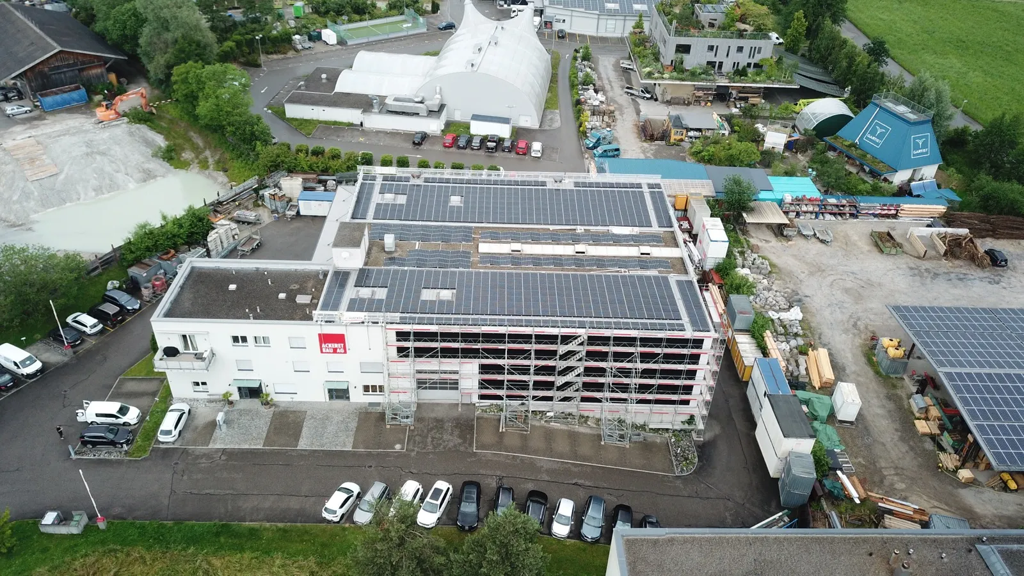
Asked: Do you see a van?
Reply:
Yes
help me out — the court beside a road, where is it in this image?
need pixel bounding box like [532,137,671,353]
[326,0,427,44]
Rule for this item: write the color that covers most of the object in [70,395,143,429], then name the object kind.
white van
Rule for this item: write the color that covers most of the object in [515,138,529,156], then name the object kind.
red car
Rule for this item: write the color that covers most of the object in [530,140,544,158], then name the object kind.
white car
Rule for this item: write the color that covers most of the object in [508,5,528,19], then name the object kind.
white vehicle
